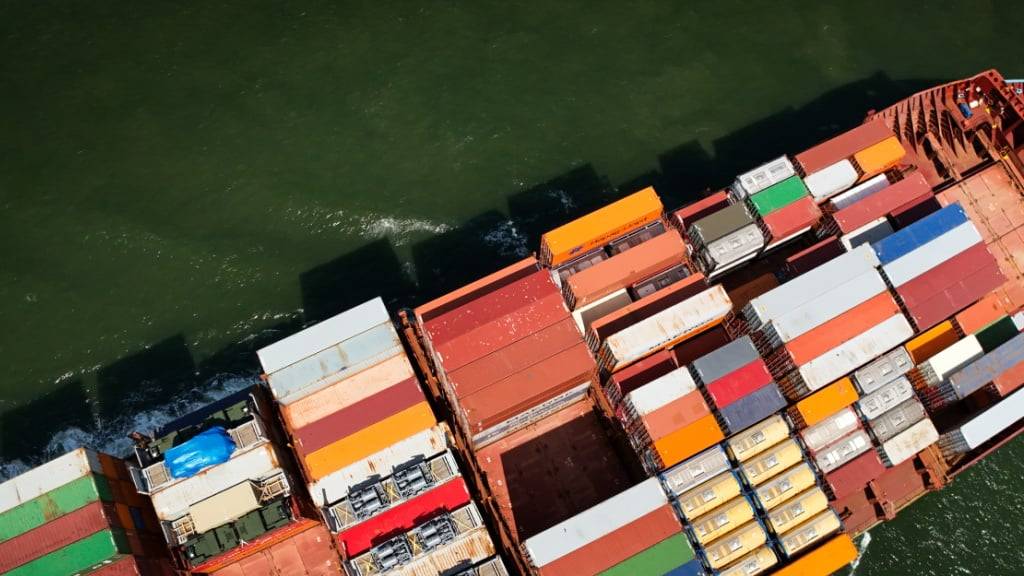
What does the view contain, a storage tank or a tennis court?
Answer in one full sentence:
It is a storage tank that can be seen here.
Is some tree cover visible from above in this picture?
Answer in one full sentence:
No, tree cover can't be seen anywhere here.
